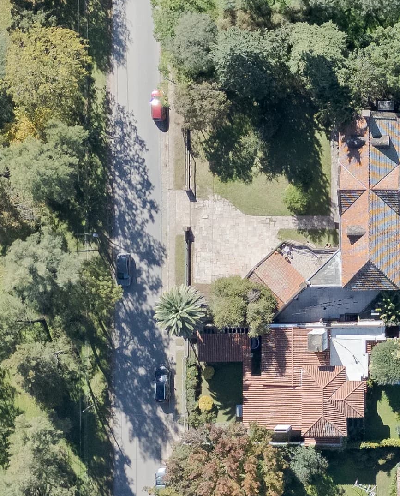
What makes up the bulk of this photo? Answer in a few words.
trees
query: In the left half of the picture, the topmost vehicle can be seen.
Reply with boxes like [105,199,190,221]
[149,90,168,122]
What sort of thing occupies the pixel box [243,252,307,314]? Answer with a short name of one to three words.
building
